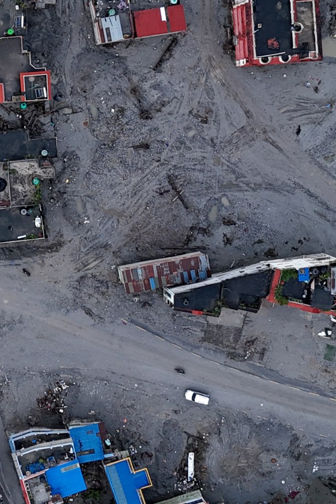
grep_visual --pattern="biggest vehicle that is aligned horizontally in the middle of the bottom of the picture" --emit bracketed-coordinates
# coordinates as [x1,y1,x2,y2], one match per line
[185,390,213,407]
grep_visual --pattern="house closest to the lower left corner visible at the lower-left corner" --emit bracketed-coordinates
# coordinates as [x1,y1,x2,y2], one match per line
[9,426,87,504]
